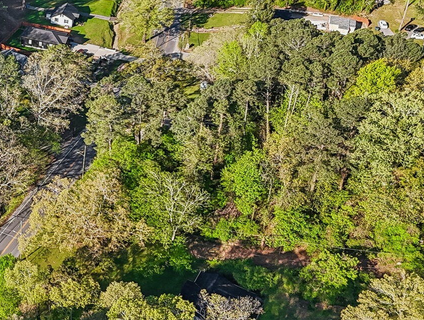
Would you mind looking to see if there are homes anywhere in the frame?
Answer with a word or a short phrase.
Yes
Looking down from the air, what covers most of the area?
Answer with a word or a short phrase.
trees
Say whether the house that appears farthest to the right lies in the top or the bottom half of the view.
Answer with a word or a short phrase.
top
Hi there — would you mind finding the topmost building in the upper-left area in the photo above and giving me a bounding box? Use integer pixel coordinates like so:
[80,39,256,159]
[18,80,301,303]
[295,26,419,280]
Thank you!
[47,0,82,27]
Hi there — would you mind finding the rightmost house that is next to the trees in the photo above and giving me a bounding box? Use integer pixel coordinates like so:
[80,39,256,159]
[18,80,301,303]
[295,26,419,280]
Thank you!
[328,14,361,34]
